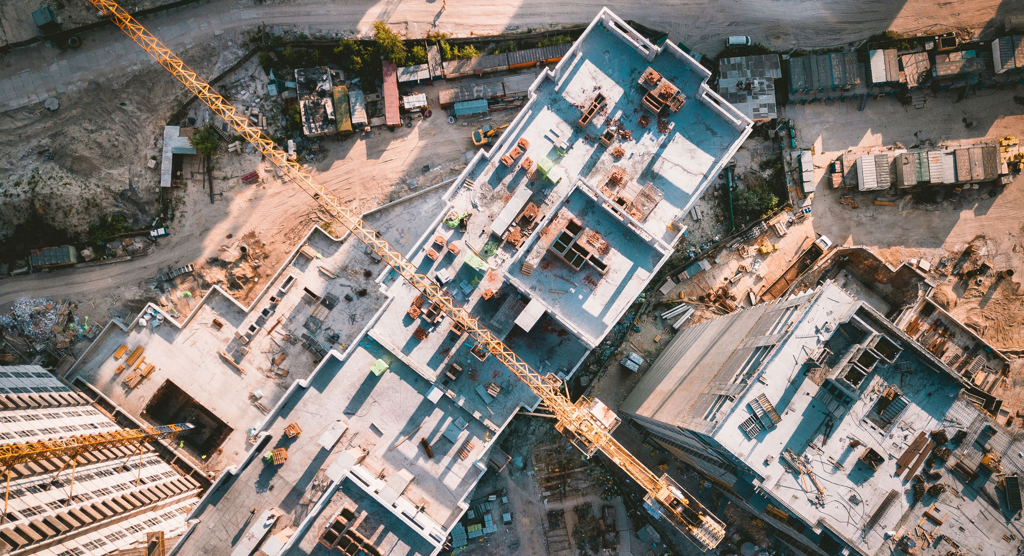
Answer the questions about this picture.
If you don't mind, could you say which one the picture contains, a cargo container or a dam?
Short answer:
cargo container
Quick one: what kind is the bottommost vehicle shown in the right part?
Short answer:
truck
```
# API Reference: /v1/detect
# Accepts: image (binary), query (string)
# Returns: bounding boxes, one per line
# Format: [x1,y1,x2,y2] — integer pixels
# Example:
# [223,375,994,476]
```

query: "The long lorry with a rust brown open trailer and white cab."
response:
[757,233,837,301]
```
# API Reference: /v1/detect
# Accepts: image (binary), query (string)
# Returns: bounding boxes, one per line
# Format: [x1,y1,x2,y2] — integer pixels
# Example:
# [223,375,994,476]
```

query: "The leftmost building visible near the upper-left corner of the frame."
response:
[32,7,60,29]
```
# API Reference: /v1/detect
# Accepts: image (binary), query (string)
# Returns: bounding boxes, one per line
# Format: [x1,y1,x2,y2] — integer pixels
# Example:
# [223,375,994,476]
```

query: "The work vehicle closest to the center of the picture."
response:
[468,125,508,149]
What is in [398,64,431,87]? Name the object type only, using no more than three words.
shed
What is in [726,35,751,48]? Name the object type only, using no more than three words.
vehicle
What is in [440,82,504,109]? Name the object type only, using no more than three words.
building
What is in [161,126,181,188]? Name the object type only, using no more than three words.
shed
